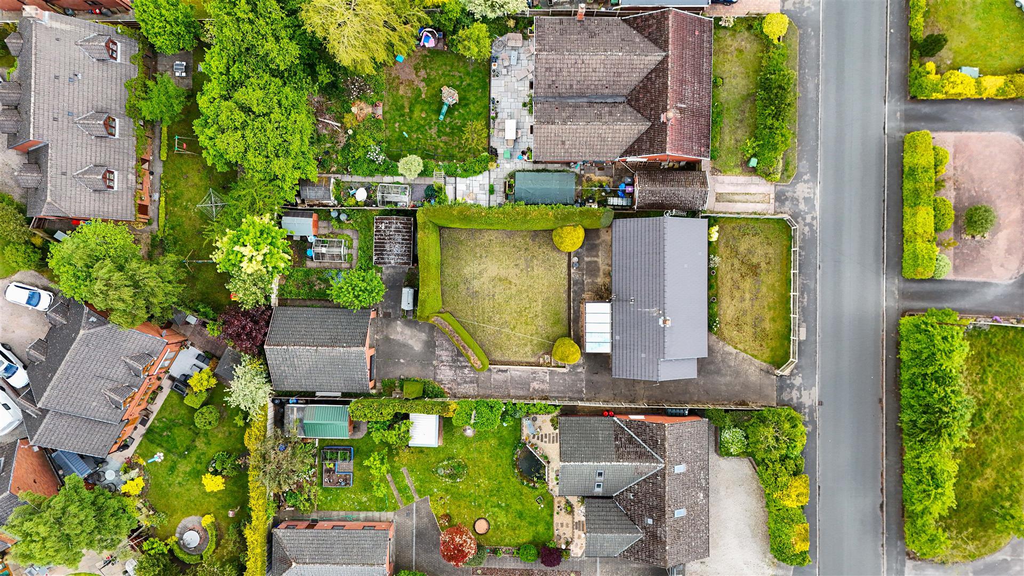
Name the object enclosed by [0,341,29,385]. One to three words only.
car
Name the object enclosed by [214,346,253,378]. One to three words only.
building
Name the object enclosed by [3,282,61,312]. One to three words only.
car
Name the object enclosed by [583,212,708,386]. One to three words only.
house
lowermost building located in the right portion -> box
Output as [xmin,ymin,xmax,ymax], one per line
[558,414,709,576]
